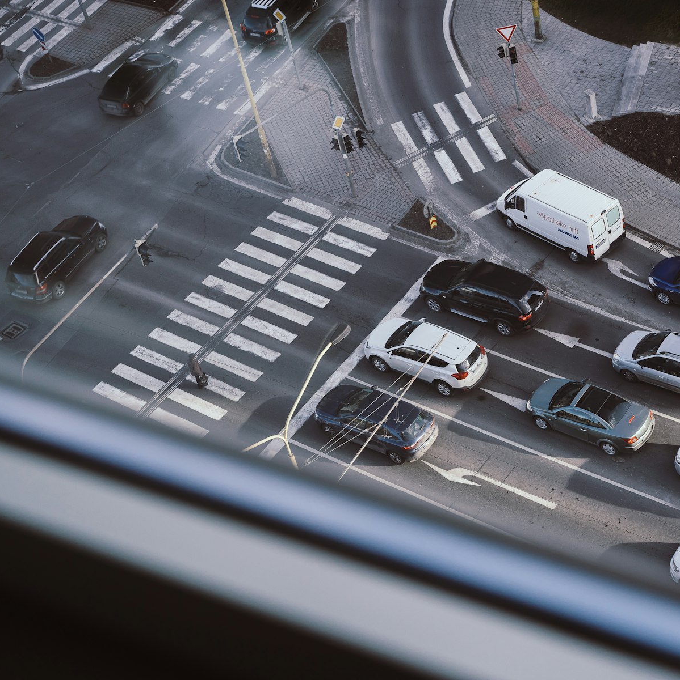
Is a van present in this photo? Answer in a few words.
Yes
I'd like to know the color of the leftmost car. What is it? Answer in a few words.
black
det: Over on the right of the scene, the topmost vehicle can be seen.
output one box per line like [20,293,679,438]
[500,163,632,263]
